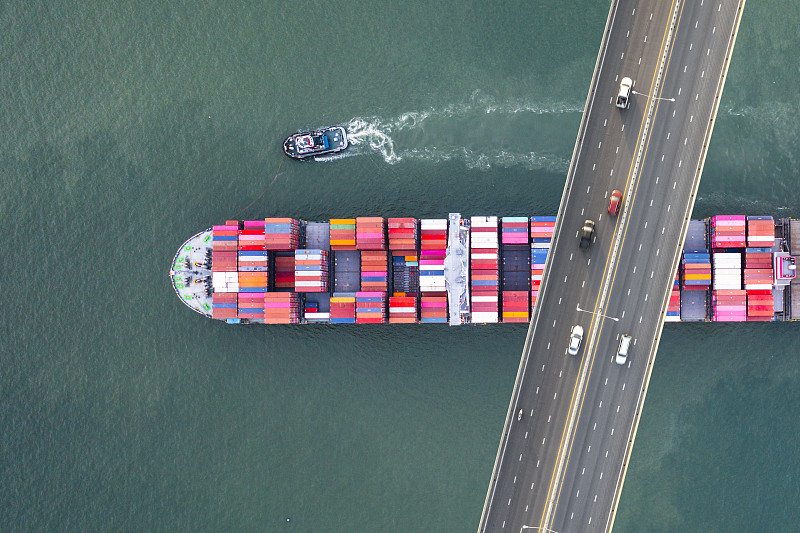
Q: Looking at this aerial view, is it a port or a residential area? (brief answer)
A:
port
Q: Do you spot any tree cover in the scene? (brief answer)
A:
No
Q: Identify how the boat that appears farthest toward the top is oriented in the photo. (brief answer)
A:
from left to right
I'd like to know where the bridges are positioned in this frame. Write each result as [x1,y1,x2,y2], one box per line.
[477,0,747,533]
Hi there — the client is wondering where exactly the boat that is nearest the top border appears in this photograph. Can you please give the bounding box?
[284,125,350,157]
